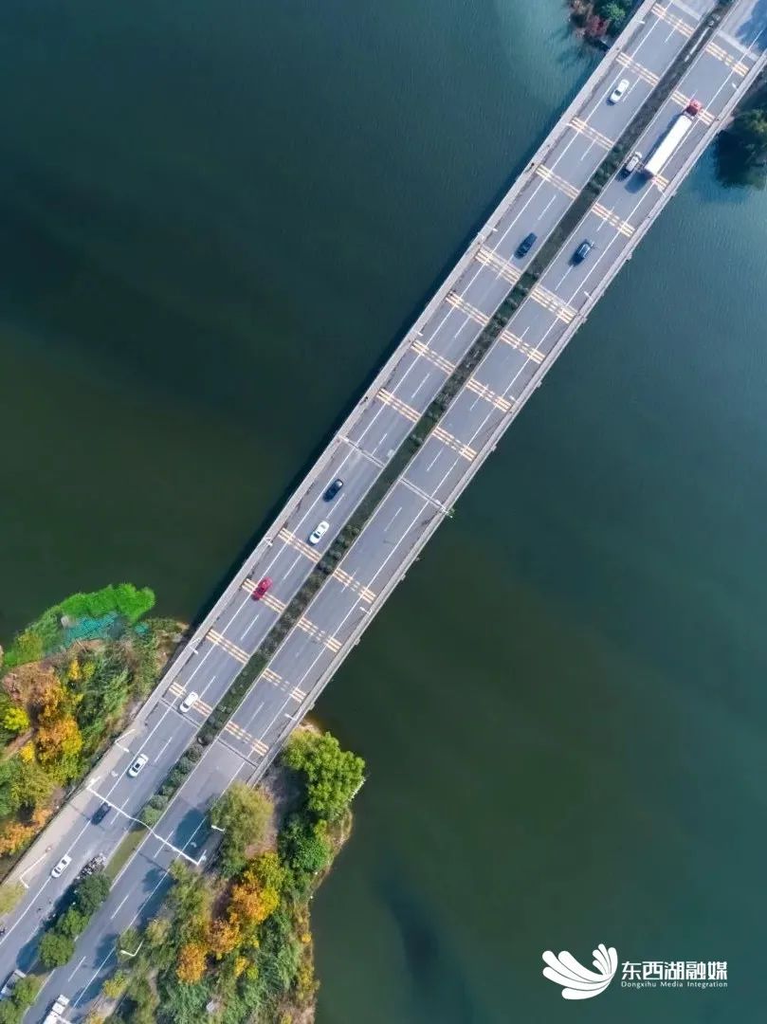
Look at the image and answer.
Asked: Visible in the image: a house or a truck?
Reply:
truck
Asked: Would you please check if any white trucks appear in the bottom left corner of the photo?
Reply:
Yes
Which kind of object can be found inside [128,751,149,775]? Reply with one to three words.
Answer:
car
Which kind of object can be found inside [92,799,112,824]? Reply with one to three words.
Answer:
car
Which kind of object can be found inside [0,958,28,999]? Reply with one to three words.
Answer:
truck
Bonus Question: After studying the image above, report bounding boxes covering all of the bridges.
[150,0,767,778]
